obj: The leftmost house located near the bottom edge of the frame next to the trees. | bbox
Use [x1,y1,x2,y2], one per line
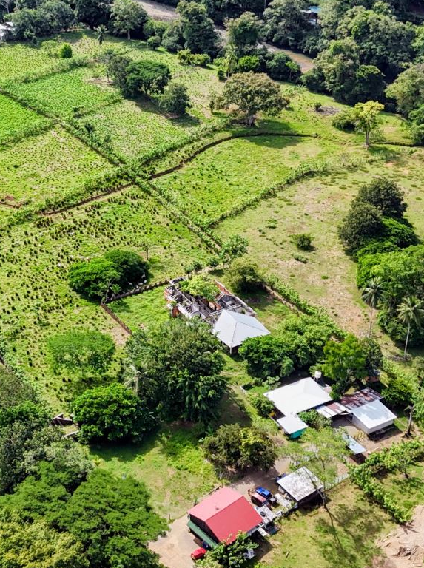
[182,488,261,552]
